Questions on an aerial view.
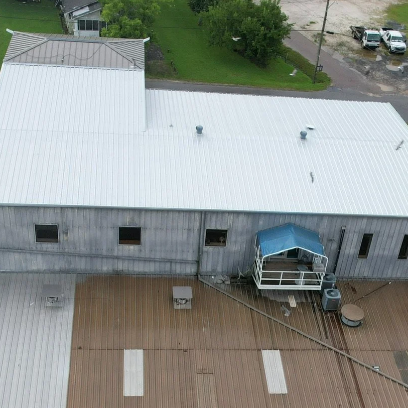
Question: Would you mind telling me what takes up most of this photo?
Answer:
buildings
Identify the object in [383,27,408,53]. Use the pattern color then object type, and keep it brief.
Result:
white truck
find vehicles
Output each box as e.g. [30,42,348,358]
[383,27,408,53]
[354,24,384,49]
